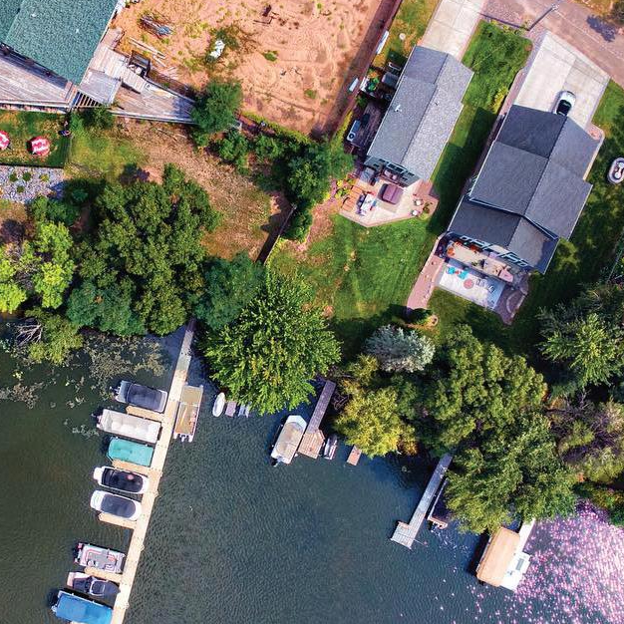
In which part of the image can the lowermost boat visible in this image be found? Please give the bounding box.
[54,595,114,624]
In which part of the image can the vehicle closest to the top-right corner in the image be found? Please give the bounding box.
[554,90,577,118]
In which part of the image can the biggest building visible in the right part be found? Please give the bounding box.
[448,105,605,274]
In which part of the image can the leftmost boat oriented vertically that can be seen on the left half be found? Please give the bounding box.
[175,385,204,440]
